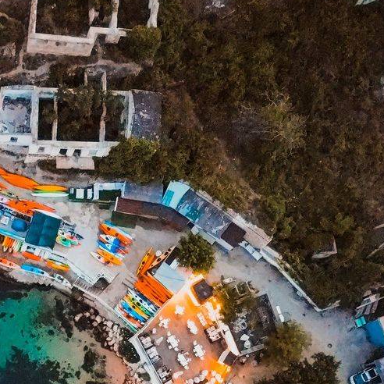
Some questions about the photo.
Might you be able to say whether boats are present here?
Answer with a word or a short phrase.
Yes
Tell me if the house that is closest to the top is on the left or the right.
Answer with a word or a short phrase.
left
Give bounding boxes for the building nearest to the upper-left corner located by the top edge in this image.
[25,0,126,69]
